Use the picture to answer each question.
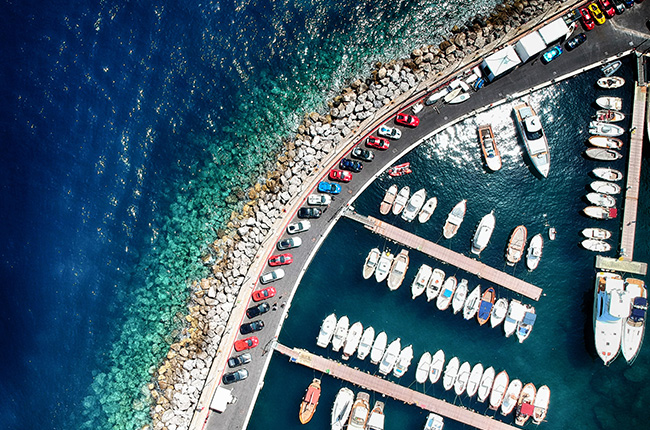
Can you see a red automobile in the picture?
Yes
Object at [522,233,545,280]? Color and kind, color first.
white boat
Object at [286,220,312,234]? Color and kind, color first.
white car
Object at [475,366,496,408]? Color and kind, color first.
white boat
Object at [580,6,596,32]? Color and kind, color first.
red car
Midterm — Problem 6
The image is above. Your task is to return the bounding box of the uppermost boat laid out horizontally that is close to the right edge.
[596,76,625,89]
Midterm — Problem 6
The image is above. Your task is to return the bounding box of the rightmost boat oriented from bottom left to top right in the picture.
[600,60,621,77]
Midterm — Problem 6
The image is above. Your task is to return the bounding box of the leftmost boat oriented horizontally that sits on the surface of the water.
[388,163,413,177]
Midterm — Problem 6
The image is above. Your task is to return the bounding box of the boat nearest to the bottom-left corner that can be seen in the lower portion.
[300,375,323,425]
